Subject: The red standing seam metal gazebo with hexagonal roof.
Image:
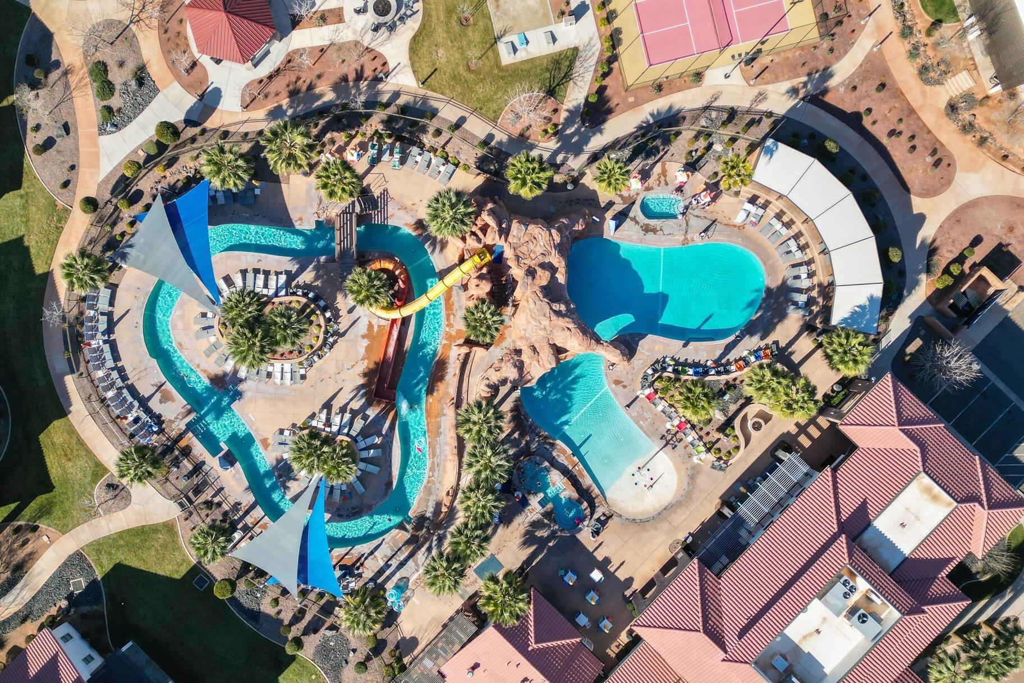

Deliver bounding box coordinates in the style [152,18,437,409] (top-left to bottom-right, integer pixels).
[184,0,280,69]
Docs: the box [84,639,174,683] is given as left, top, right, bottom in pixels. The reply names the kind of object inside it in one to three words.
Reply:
building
